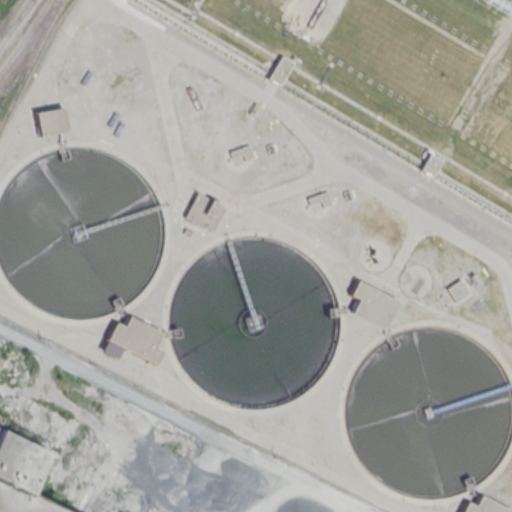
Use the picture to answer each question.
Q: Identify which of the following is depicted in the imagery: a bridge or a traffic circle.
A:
bridge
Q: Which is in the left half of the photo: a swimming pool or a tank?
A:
tank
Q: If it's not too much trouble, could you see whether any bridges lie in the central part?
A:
Yes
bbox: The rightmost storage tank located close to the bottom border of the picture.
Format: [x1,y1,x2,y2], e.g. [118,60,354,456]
[342,324,512,504]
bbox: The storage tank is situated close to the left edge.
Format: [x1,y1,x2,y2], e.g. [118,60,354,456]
[0,140,170,326]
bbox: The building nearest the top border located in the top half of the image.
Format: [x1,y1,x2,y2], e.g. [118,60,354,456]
[268,57,295,88]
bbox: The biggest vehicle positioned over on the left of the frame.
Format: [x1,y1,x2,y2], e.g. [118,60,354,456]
[185,87,204,111]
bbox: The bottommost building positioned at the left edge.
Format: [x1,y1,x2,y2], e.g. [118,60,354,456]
[0,428,58,496]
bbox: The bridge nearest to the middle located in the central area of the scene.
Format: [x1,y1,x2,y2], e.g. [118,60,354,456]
[225,234,260,332]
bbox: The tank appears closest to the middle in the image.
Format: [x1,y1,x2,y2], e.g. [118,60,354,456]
[164,230,342,413]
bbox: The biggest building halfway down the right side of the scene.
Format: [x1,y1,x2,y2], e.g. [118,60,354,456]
[350,280,400,328]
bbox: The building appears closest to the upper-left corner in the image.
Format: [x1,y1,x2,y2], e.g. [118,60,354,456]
[36,110,70,136]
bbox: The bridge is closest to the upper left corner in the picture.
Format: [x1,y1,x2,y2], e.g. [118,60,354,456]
[80,203,170,238]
